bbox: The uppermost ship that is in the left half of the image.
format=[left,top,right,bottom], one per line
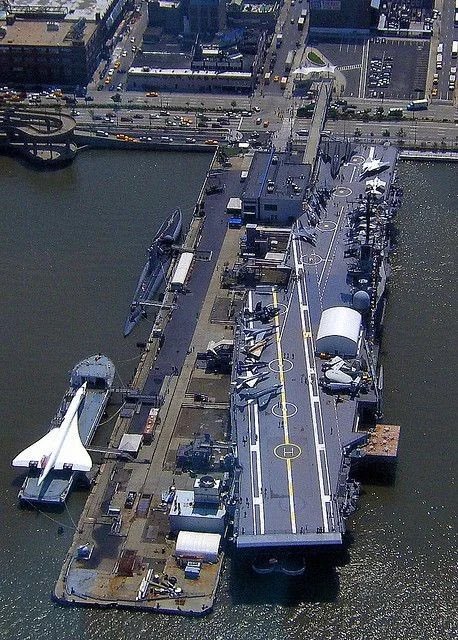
[122,208,177,336]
